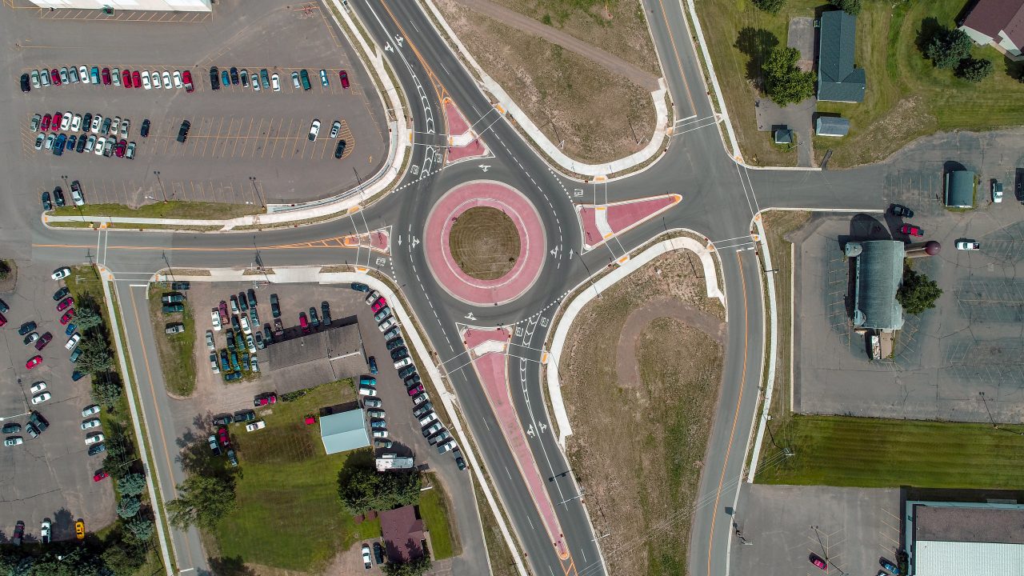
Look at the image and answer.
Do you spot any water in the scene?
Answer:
No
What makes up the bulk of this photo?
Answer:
paved ground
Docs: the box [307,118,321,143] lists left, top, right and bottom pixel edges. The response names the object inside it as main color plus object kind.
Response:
white vehicle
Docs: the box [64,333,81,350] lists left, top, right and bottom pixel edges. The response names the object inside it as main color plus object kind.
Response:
white car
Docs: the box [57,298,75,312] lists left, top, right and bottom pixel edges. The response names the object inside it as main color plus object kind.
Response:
pink car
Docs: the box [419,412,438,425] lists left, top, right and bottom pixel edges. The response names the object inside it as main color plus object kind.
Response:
white vehicle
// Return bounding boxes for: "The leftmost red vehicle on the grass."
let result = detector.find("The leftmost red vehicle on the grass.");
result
[218,426,231,448]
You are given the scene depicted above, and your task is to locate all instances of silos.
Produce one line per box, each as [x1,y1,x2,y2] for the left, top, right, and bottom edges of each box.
[905,240,943,259]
